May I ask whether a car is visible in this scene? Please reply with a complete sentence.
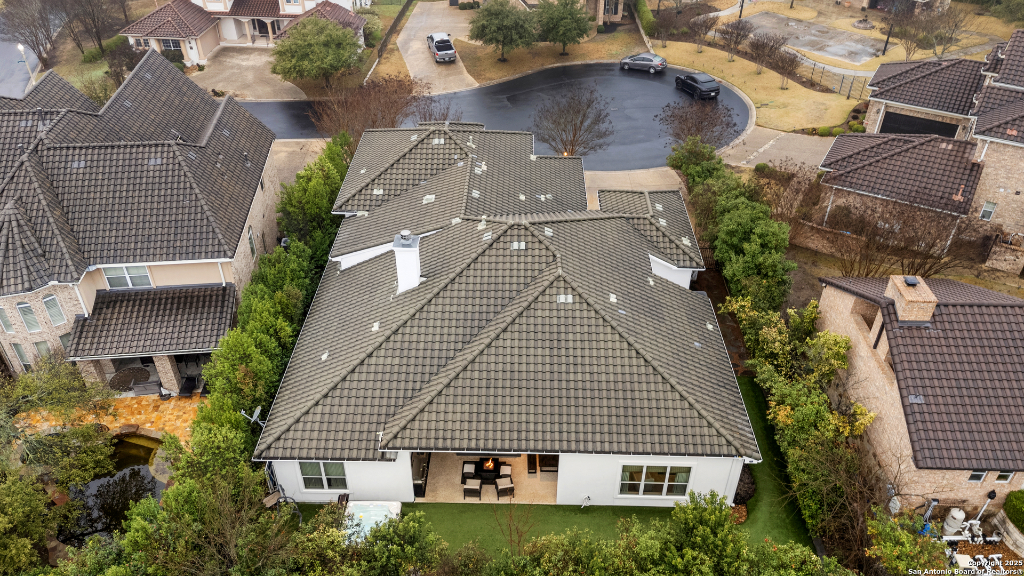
Yes, I can see a car in this picture.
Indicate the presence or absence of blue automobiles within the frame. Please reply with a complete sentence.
No, there isn't any blue automobile down there.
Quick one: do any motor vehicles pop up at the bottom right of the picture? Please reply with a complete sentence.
No, no motor vehicle can be made out at the bottom right of the picture.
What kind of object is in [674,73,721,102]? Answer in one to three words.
car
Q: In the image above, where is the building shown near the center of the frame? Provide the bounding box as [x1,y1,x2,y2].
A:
[253,121,762,514]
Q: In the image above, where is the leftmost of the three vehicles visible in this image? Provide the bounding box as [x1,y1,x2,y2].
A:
[426,30,458,62]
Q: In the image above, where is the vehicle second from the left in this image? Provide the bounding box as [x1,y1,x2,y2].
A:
[616,52,668,76]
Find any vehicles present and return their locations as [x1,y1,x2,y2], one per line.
[674,73,721,102]
[616,52,668,76]
[426,30,458,62]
